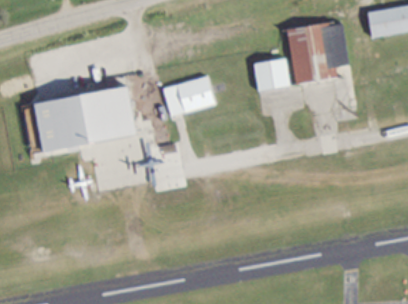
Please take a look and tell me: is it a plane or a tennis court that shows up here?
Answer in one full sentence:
This aerial view contains a plane.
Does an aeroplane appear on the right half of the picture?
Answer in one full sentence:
No, there's no aeroplane to be seen on the right half of the picture.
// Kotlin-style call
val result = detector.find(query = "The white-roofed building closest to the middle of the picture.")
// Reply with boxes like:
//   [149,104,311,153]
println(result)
[162,75,216,120]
